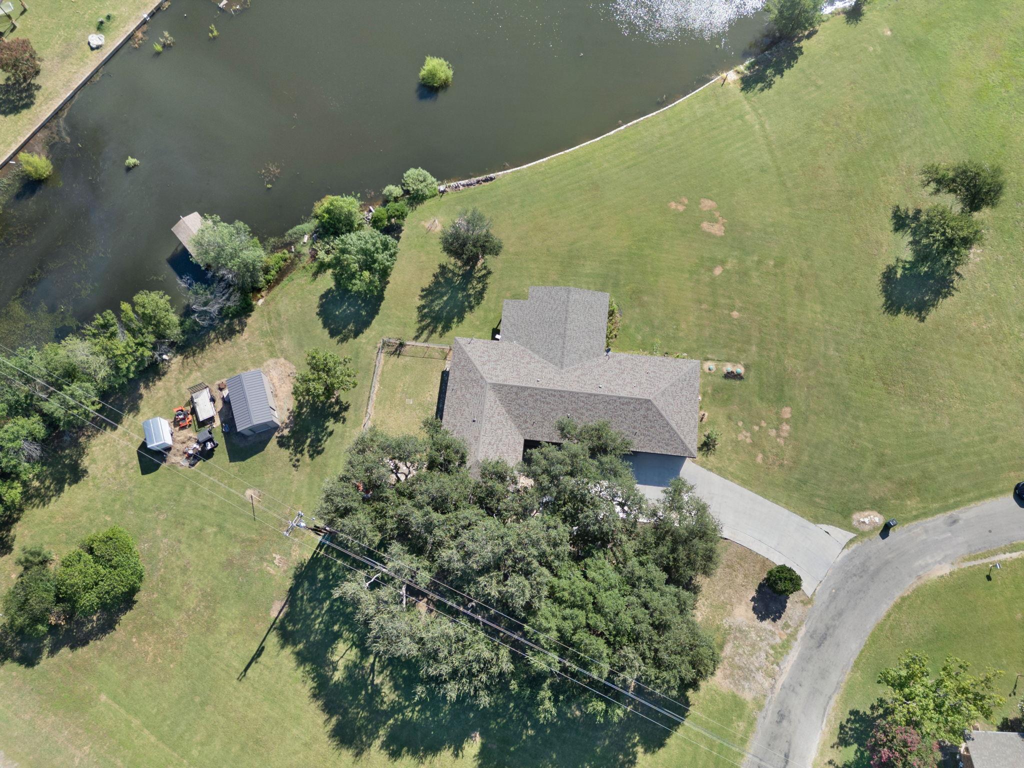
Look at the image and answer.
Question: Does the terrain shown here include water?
Yes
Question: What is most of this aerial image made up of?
grass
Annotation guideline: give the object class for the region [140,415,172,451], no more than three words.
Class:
shed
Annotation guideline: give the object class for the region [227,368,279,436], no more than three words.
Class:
shed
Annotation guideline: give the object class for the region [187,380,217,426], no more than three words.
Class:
trailer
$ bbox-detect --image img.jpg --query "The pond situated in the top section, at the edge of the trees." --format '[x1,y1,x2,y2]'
[0,0,858,364]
